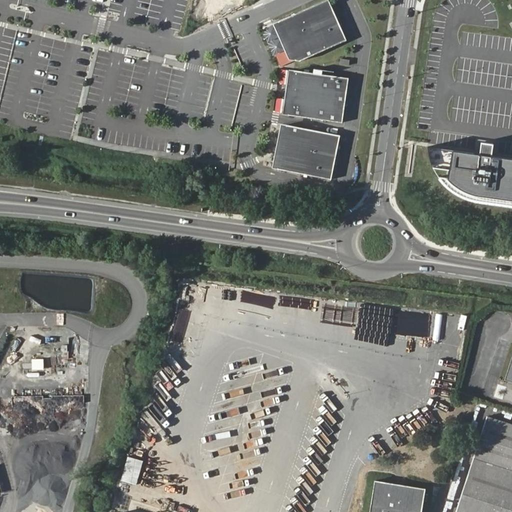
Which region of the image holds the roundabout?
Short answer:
right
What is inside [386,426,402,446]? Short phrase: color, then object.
gray vehicle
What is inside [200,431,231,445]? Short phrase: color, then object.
white vehicle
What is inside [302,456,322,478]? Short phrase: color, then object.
white vehicle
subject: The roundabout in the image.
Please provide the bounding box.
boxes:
[339,206,413,280]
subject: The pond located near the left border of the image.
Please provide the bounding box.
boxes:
[20,272,94,314]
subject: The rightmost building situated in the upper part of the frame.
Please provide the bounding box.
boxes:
[427,143,512,207]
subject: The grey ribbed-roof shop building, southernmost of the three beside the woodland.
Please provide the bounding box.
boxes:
[272,124,340,180]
